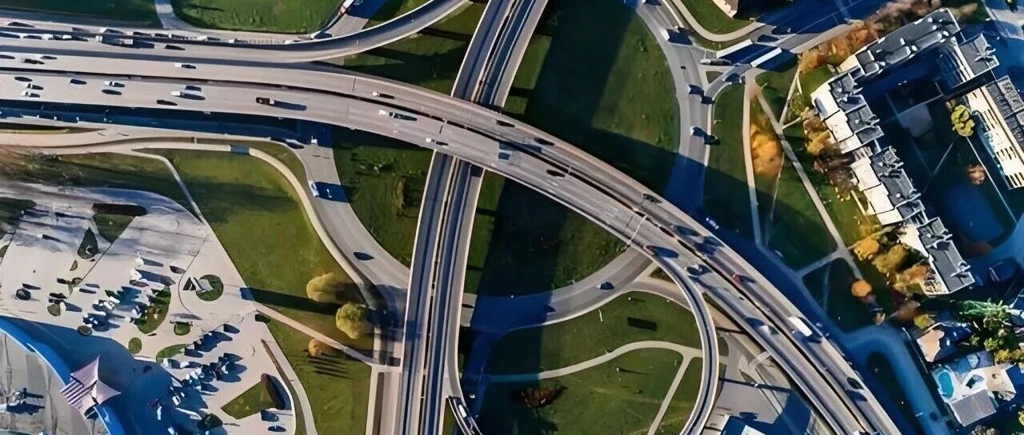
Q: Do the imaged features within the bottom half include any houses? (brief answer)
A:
Yes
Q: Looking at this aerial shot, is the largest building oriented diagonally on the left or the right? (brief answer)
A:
right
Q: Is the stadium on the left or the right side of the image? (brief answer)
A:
left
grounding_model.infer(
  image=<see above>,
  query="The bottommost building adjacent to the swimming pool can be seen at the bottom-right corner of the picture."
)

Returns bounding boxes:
[946,388,998,427]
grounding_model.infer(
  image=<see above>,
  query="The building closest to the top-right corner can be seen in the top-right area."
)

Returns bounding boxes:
[939,32,1000,82]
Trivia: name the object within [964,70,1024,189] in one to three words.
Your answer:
building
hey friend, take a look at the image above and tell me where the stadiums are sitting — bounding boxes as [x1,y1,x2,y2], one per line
[0,315,125,435]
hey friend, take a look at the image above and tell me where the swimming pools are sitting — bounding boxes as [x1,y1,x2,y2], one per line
[939,369,955,398]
